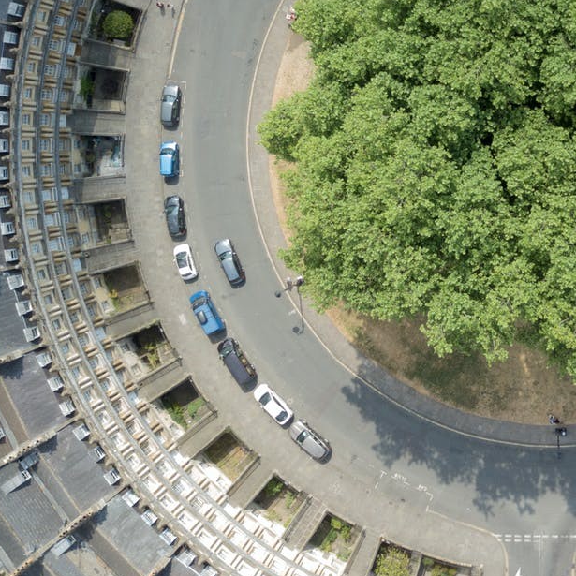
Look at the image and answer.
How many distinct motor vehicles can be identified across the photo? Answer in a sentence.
I count 9 motor vehicles.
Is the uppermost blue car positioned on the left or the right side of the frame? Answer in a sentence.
The uppermost blue car appears in the left half of the scene.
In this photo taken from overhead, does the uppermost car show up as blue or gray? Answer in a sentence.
In this view, the uppermost car is gray.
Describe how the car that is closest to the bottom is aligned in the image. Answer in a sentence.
Seen from above, the car that is closest to the bottom lies on a diagonal.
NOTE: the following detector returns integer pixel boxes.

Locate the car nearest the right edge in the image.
[290,420,334,460]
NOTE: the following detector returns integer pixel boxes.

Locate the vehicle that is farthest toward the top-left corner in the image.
[159,82,183,126]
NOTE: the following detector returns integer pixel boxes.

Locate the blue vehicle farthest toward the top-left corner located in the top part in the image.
[157,140,180,179]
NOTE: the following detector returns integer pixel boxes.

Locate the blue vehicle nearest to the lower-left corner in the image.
[190,290,225,337]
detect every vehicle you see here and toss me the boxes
[252,384,294,427]
[216,238,245,286]
[163,194,190,238]
[190,290,225,337]
[157,140,180,179]
[217,338,258,387]
[173,241,200,281]
[159,82,183,126]
[290,420,334,460]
